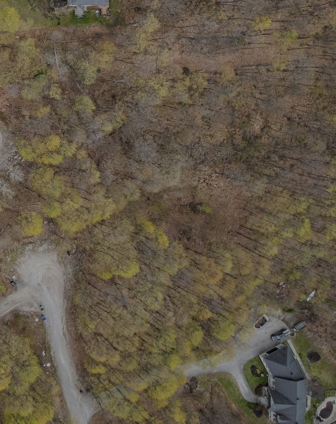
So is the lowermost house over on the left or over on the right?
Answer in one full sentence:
The lowermost house sits on the right side.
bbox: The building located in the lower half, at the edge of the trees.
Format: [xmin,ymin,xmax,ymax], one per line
[257,342,311,424]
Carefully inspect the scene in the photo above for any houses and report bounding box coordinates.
[66,0,109,19]
[257,342,311,424]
